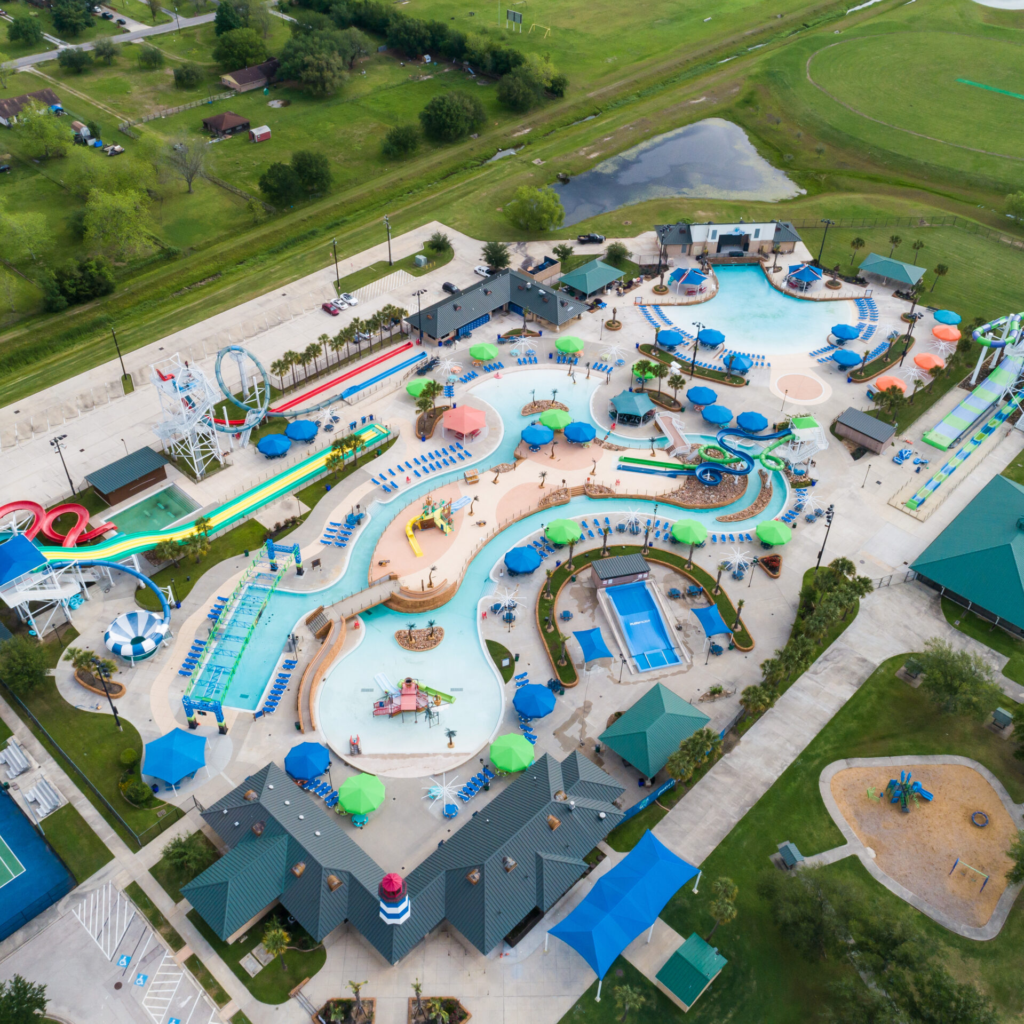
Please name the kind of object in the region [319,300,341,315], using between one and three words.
car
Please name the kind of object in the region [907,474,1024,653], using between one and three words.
building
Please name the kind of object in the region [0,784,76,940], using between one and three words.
tennis court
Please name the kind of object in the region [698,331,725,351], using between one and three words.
umbrella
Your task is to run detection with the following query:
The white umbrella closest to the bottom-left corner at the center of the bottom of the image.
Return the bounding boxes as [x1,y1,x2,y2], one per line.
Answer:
[420,771,468,812]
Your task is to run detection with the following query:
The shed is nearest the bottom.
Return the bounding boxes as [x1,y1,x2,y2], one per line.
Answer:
[655,933,728,1014]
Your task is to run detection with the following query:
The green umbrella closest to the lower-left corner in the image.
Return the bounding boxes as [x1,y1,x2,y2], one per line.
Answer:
[340,775,385,814]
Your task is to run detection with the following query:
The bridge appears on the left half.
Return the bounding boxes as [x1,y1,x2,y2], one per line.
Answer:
[322,576,457,622]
